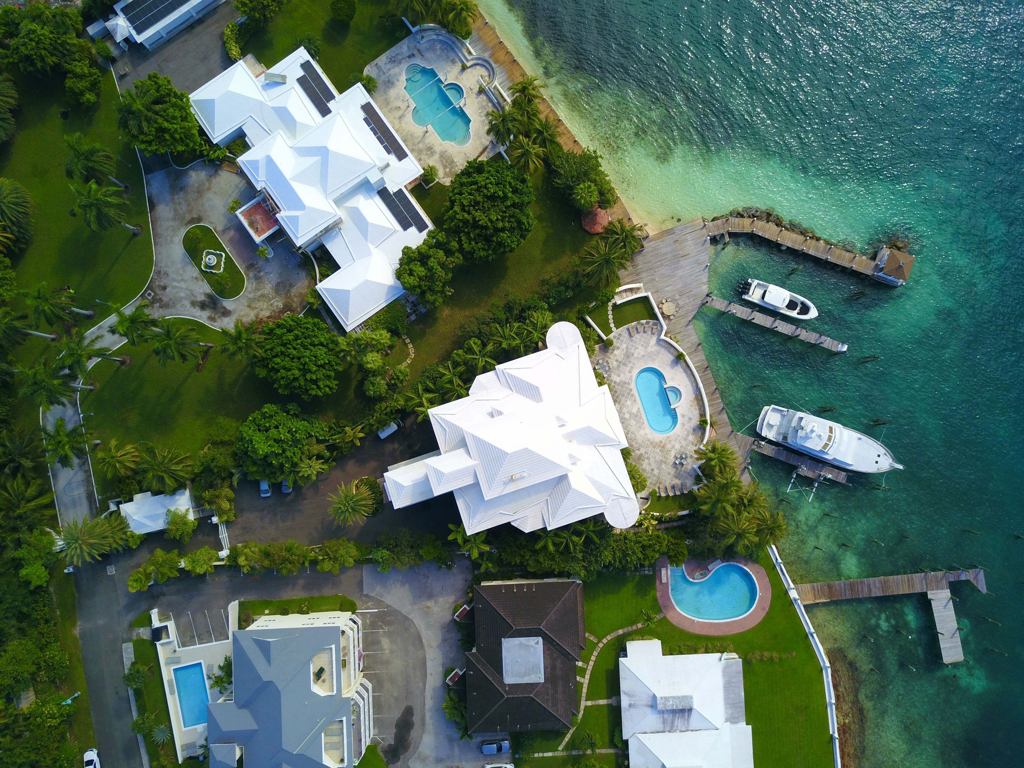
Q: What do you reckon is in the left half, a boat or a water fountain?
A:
water fountain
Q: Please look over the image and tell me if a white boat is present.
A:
Yes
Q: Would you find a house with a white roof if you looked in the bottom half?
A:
Yes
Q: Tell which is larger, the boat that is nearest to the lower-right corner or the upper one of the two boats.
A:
the boat that is nearest to the lower-right corner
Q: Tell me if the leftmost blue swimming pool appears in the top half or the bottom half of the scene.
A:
bottom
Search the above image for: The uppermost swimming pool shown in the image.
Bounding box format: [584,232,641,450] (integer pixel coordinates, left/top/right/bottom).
[401,61,474,148]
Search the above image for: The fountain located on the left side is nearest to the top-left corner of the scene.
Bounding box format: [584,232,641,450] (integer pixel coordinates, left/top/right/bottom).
[201,249,226,273]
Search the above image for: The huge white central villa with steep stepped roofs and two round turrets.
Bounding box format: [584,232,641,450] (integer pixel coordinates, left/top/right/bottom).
[384,320,641,536]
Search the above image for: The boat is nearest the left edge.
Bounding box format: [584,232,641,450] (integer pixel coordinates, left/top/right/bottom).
[738,279,818,319]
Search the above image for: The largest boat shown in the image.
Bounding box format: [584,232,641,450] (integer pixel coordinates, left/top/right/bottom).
[756,402,904,473]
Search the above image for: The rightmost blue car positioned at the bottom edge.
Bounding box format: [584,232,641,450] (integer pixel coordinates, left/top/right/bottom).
[480,738,511,756]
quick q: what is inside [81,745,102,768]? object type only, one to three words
car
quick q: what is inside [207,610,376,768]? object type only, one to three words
building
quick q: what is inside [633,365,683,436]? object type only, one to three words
swimming pool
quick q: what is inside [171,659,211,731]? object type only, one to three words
swimming pool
